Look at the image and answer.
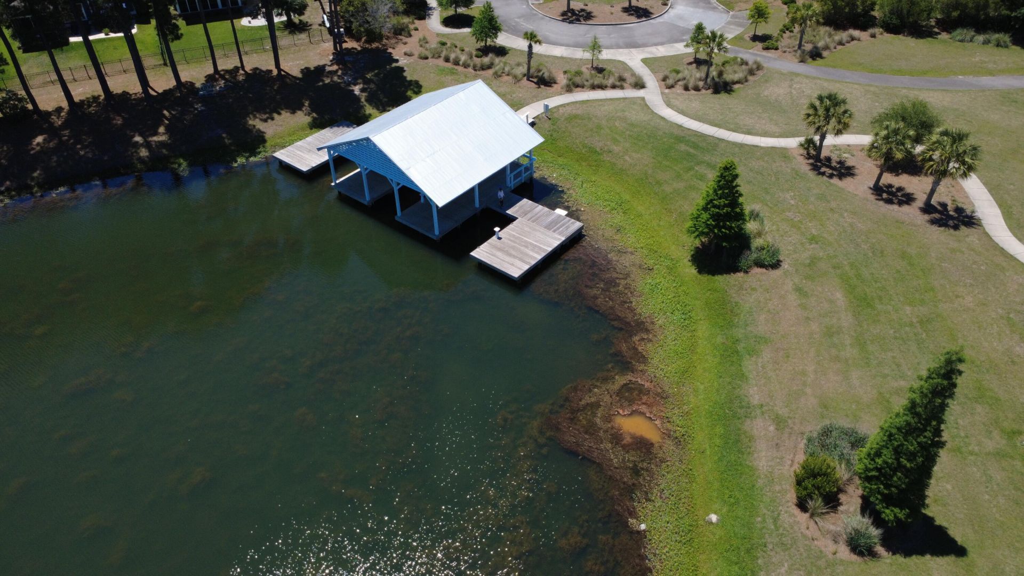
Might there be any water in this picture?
Yes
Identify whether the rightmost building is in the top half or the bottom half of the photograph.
top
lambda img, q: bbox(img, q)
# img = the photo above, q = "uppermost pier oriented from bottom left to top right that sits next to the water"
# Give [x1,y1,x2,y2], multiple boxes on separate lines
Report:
[273,121,372,177]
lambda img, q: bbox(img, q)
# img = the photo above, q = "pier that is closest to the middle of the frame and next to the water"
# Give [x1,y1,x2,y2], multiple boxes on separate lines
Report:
[470,198,584,289]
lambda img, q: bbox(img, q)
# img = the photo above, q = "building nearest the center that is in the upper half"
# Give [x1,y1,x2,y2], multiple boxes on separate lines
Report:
[317,79,544,245]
